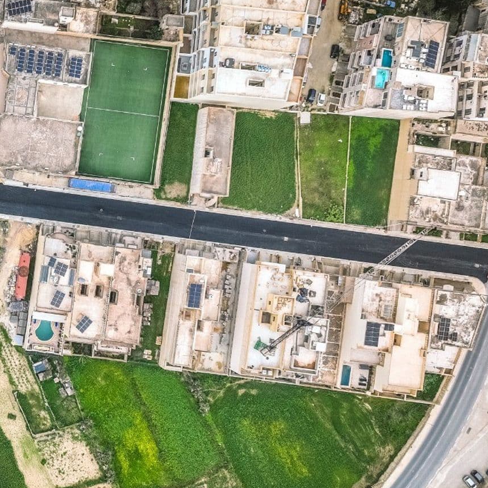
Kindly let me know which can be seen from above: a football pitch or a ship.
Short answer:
football pitch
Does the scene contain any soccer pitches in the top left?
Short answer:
Yes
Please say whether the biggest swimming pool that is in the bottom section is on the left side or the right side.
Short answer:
left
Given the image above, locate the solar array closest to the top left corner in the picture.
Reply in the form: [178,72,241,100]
[6,0,33,13]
